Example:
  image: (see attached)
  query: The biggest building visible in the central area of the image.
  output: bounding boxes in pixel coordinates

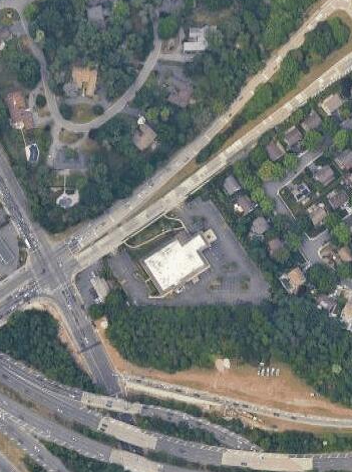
[144,235,205,291]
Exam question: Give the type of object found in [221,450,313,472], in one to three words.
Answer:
bridge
